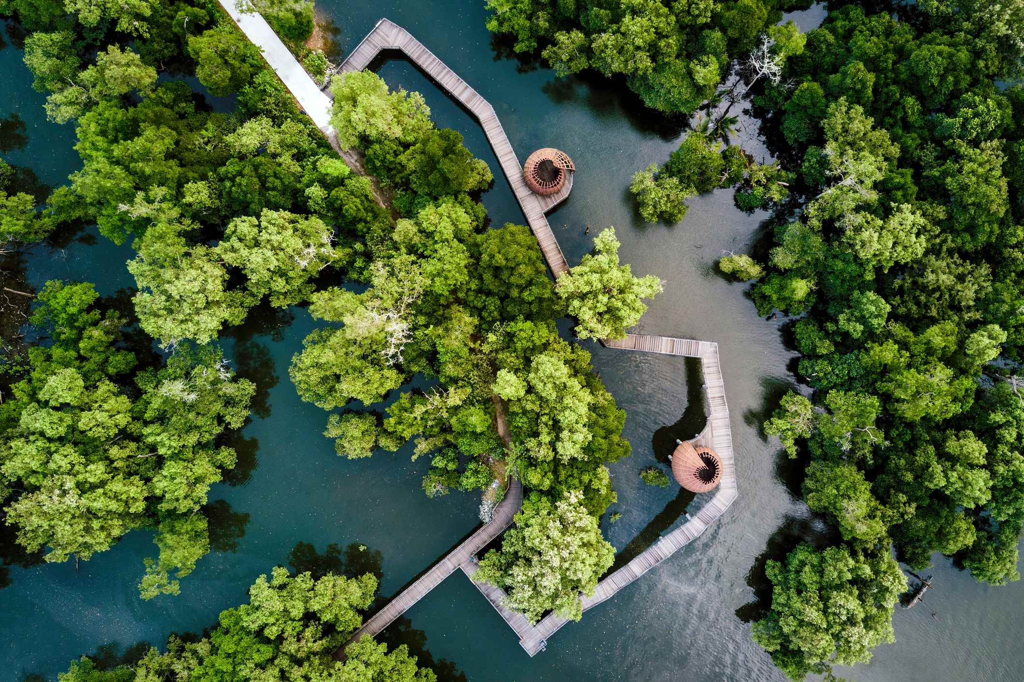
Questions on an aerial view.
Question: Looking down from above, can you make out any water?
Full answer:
Yes, there's water in this view.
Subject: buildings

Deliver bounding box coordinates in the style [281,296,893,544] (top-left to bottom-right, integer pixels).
[675,441,729,496]
[524,144,576,194]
